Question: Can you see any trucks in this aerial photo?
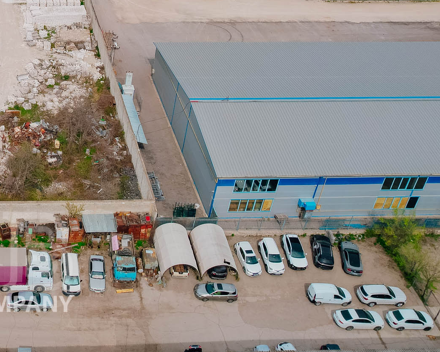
Yes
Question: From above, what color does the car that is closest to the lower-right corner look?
white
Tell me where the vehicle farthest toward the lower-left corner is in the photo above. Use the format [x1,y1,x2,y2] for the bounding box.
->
[6,290,54,313]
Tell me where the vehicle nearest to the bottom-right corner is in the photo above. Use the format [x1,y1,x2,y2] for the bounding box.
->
[381,309,439,335]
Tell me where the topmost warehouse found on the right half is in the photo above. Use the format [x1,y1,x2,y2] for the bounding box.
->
[152,42,440,222]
